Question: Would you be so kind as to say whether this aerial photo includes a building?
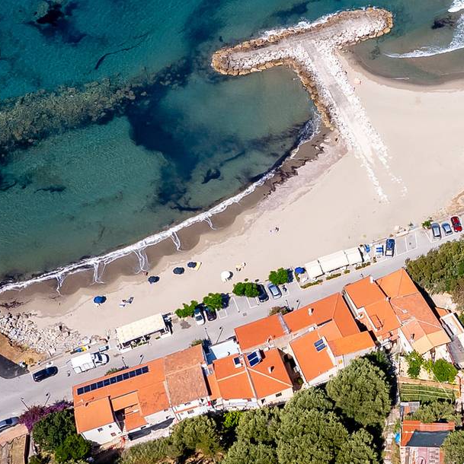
Yes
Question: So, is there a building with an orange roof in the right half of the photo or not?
Yes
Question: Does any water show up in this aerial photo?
Yes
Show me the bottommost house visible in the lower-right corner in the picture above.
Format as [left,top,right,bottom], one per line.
[400,401,454,452]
